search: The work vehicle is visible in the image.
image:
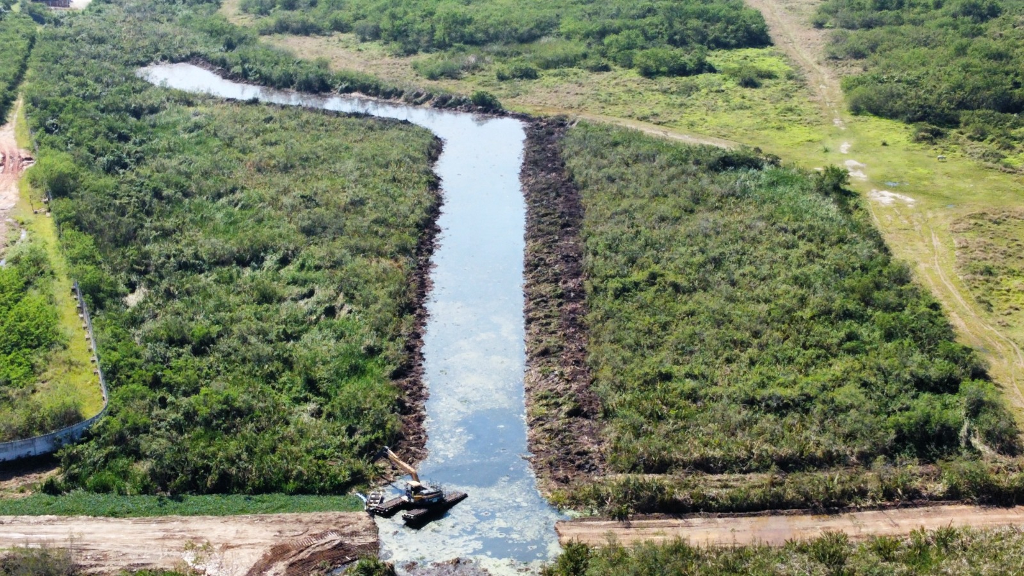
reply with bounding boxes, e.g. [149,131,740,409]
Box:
[366,448,466,524]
